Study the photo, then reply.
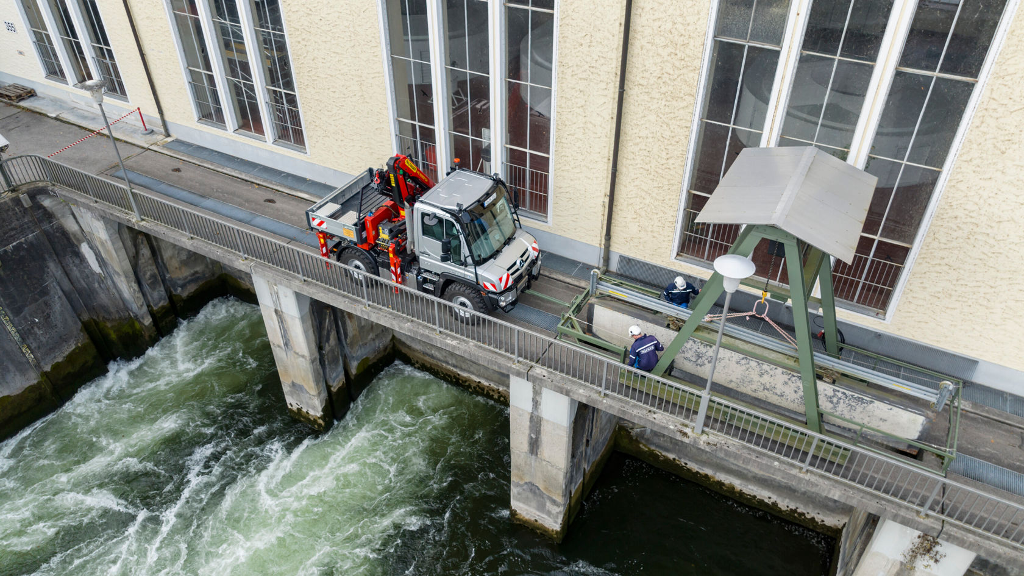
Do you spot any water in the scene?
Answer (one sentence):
Yes, the picture does contain water.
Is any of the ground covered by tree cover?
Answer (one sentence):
No, tree cover can't be seen anywhere here.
